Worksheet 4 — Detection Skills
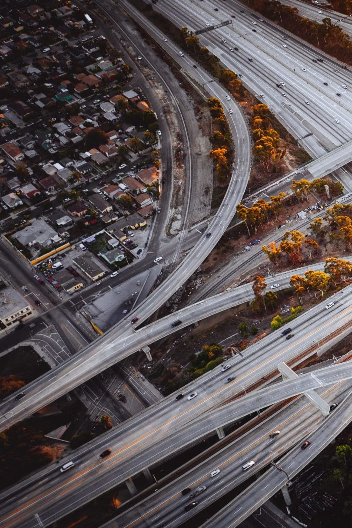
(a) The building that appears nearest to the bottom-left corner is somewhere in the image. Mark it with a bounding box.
[0,287,35,335]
